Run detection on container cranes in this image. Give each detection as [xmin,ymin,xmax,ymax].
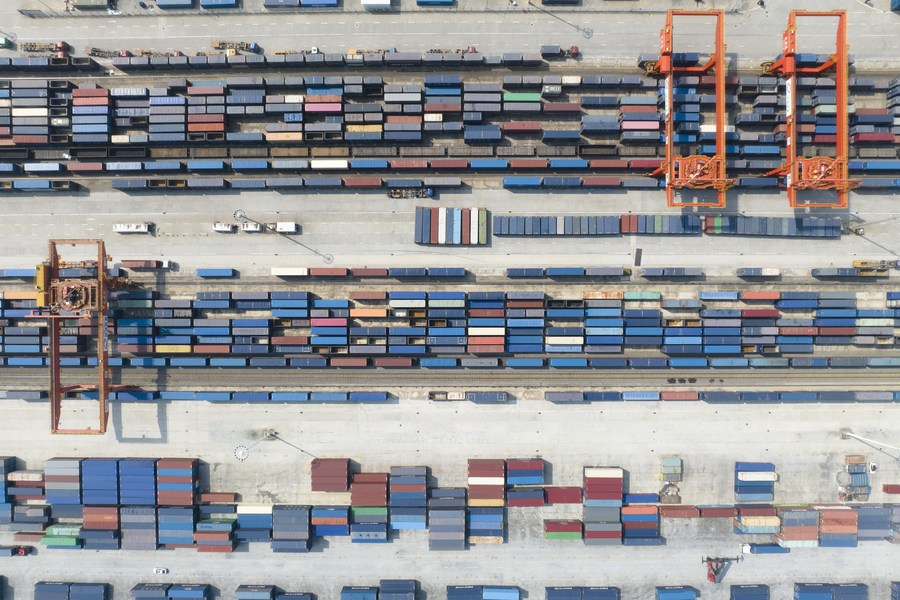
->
[747,9,861,209]
[22,238,152,435]
[635,8,738,209]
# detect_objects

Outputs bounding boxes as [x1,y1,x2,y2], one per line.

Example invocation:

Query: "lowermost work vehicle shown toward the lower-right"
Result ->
[704,562,748,589]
